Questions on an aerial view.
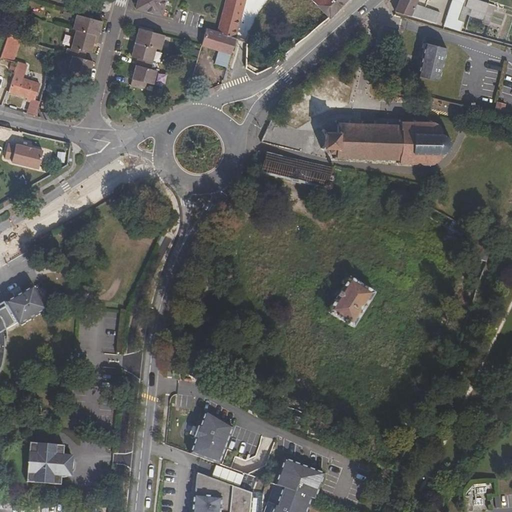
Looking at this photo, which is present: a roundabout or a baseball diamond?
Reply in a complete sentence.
I can see a roundabout in this picture.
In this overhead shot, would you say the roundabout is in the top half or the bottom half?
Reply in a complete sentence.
The roundabout sits in the top half of the picture.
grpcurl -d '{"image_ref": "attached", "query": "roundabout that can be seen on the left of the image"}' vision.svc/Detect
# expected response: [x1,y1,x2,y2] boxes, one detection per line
[152,104,245,196]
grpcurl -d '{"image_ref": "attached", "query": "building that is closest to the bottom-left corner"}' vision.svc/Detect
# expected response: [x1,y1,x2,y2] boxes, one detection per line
[26,442,75,485]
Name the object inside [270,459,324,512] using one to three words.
building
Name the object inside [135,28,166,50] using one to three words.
house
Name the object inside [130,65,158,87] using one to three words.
house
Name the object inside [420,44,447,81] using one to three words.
building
